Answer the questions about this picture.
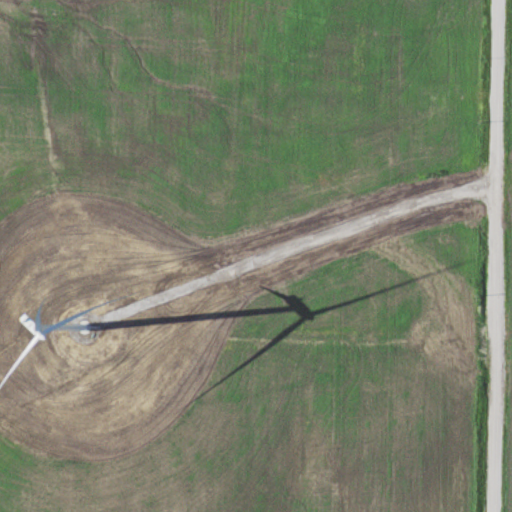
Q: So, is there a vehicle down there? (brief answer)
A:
No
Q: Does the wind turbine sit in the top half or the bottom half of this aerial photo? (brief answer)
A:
bottom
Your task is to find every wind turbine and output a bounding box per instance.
[0,300,132,388]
